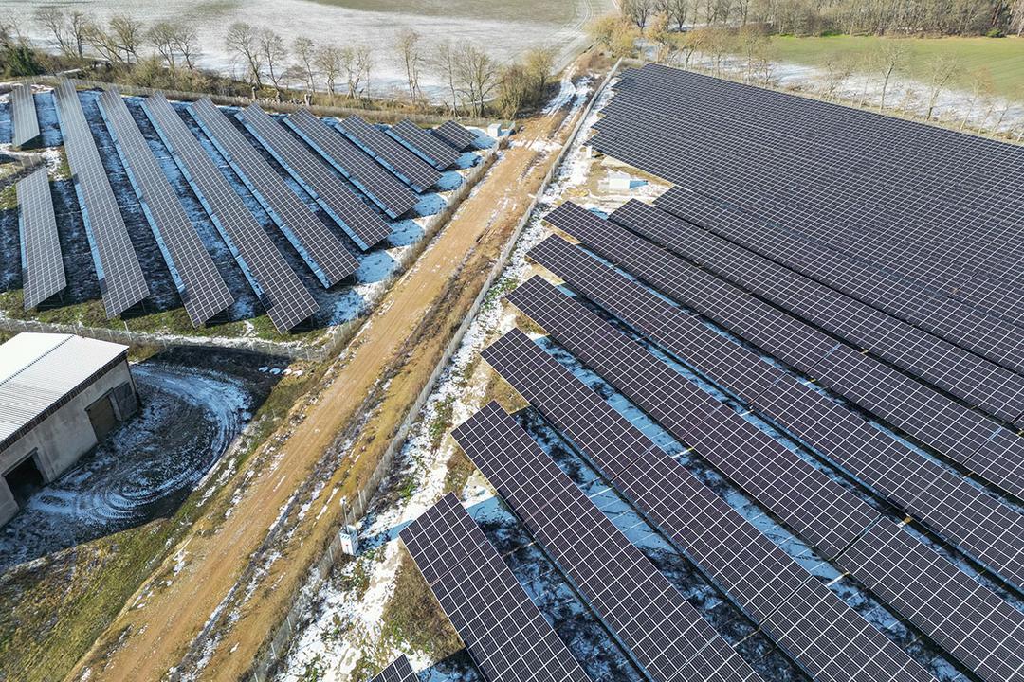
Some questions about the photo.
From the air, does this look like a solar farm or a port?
solar farm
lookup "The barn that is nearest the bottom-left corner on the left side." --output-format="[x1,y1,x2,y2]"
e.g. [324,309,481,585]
[0,325,147,523]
